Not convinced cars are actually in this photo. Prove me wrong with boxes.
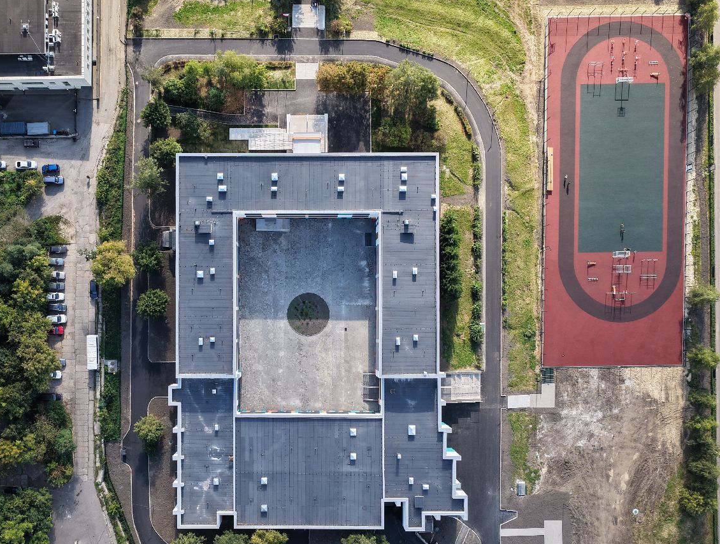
[54,358,68,366]
[46,327,67,335]
[48,244,70,254]
[43,176,65,185]
[47,292,68,301]
[89,281,99,299]
[15,159,37,170]
[49,270,68,280]
[46,281,67,291]
[0,160,7,169]
[41,162,61,173]
[48,256,67,266]
[47,304,69,312]
[47,314,68,324]
[43,370,63,378]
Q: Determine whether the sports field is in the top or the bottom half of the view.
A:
top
